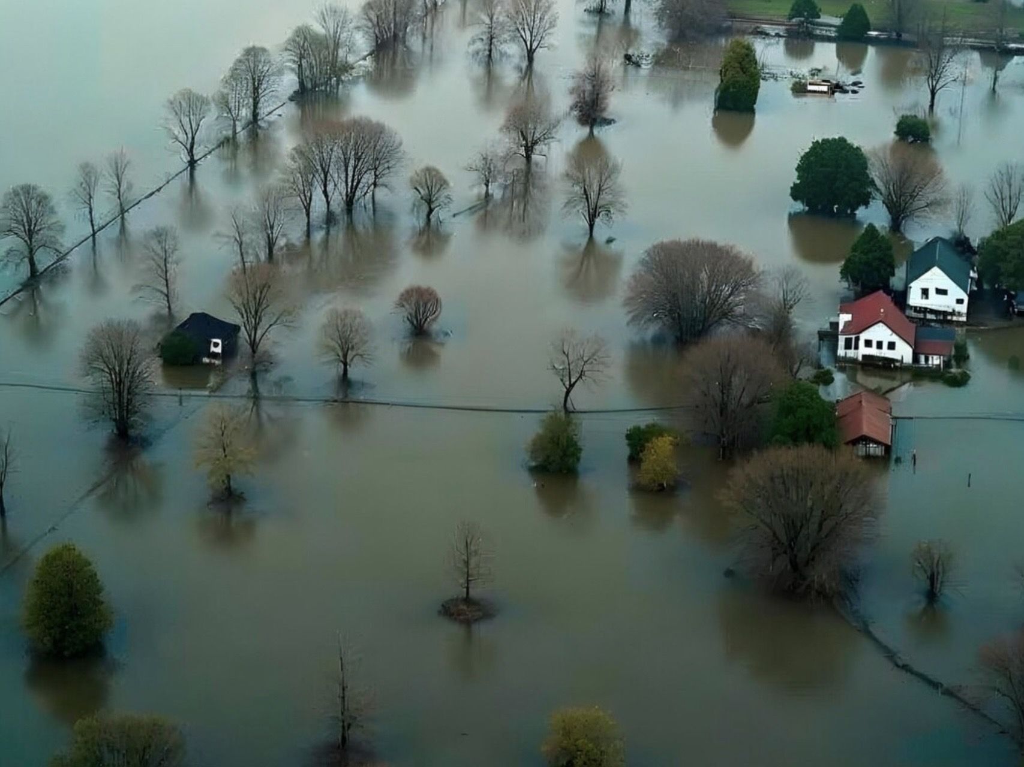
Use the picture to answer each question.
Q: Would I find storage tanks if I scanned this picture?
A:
No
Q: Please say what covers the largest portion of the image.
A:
water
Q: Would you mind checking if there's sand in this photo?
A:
No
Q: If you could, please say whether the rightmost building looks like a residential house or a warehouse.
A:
residential house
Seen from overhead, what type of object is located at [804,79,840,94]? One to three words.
shed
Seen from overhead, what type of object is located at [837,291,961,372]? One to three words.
house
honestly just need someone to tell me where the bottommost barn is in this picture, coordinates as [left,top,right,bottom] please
[839,387,898,461]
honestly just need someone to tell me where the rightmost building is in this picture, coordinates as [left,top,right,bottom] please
[906,235,978,325]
